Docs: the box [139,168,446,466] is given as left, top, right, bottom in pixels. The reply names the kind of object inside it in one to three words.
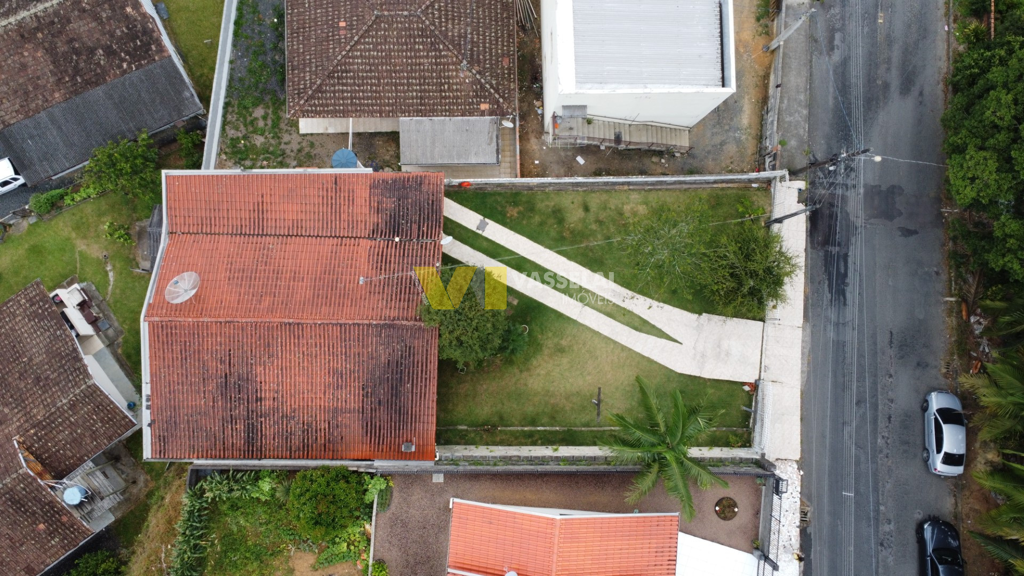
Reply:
house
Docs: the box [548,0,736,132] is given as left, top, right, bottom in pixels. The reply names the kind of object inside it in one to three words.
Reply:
building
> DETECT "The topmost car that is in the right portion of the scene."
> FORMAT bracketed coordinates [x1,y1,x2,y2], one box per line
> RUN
[921,391,969,478]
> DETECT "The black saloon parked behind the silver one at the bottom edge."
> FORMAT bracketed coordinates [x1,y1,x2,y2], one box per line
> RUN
[918,518,966,576]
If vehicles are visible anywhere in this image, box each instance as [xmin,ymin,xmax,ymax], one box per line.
[918,518,966,576]
[921,391,969,478]
[0,152,22,192]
